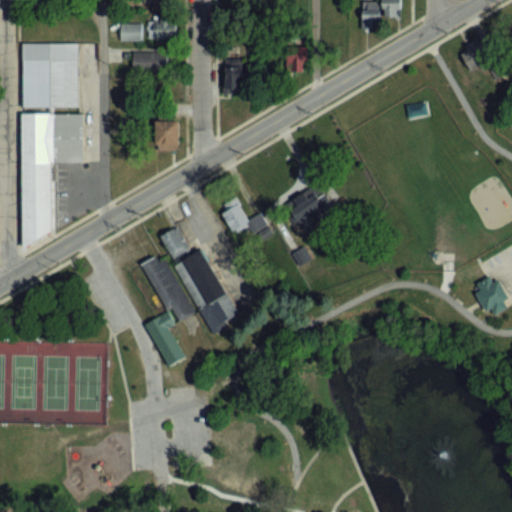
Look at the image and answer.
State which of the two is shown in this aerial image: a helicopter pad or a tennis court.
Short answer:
tennis court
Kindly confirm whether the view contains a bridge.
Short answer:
No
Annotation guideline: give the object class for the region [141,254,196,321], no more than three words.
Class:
shed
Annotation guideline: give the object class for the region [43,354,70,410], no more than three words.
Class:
tennis court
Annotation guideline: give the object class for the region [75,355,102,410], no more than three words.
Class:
tennis court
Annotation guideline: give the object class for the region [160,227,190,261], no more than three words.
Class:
house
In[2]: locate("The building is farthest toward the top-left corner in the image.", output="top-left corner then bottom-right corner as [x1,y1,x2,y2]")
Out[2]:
[21,42,80,108]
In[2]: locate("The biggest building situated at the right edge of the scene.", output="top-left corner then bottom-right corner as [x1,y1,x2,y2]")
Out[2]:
[476,276,508,313]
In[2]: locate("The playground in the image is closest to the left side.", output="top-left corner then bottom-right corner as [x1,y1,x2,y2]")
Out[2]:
[64,432,130,502]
